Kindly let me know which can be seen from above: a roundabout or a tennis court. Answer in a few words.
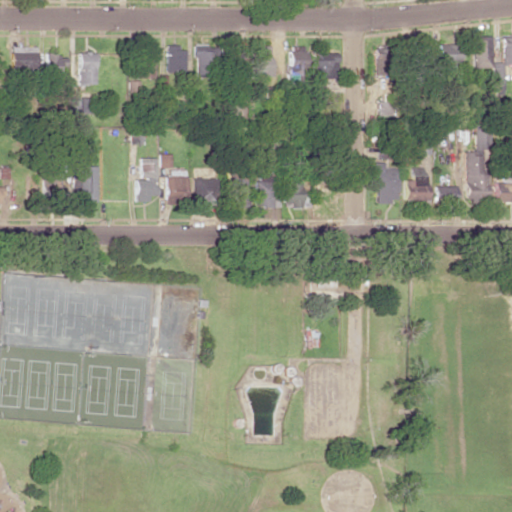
tennis court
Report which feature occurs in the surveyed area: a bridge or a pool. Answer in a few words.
pool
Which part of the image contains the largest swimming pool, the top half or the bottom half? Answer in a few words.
bottom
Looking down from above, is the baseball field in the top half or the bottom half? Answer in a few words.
bottom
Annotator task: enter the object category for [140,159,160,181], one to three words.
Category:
house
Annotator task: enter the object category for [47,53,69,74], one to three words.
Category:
house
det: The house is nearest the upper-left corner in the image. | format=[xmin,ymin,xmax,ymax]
[11,46,43,71]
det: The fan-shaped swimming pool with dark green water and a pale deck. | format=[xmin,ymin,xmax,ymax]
[236,366,294,443]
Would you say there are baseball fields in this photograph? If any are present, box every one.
[320,470,376,512]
